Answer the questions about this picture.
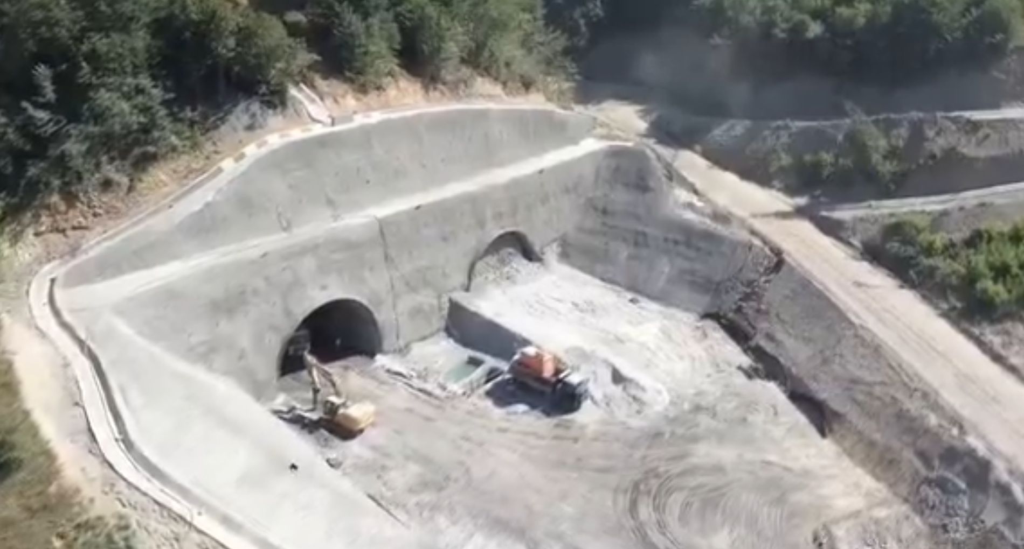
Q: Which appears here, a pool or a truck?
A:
truck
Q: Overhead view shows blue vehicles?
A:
No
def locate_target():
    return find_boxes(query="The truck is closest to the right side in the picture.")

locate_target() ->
[508,340,595,413]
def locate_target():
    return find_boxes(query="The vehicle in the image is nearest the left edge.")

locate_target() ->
[308,350,378,445]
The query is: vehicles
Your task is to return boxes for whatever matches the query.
[308,350,378,445]
[508,340,595,413]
